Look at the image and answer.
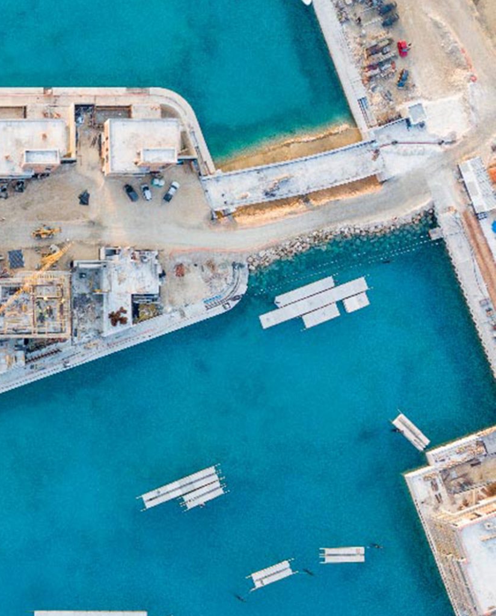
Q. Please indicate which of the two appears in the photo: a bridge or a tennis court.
bridge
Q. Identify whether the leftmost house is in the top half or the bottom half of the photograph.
top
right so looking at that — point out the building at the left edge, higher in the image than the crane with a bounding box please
[0,105,67,181]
